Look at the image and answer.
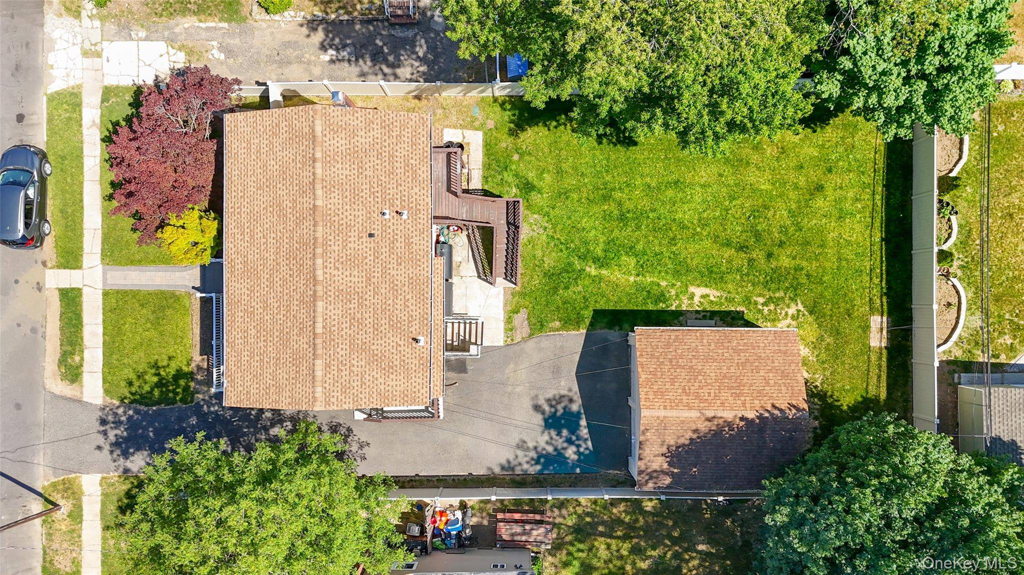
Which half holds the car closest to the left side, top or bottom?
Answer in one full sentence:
You can find the car closest to the left side in the top half.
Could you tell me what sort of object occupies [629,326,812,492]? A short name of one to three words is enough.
building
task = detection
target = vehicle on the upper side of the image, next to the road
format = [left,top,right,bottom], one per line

[0,145,57,251]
